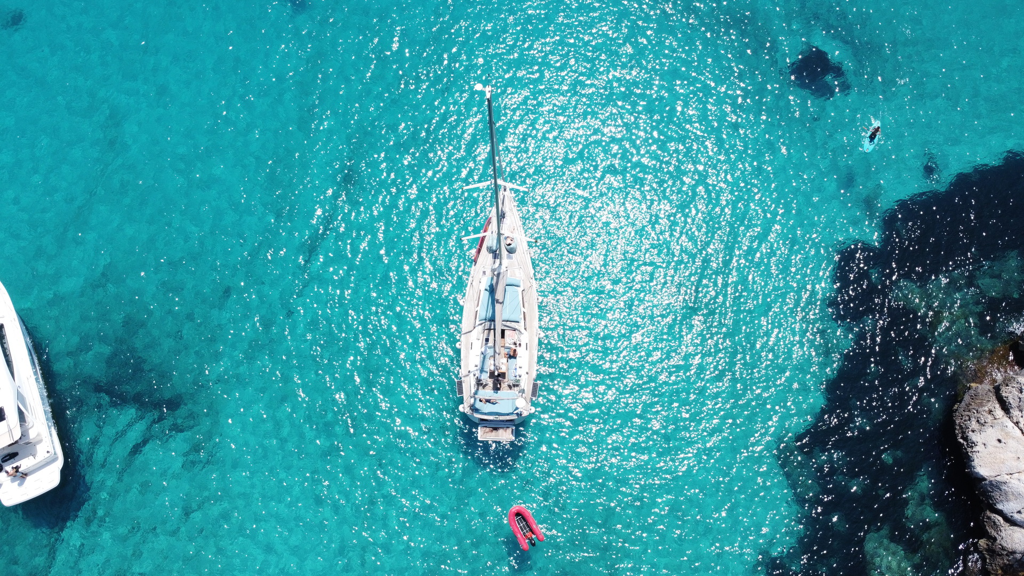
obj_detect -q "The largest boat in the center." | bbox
[456,74,540,442]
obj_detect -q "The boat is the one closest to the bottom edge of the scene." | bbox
[509,504,546,551]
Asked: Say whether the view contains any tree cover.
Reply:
No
